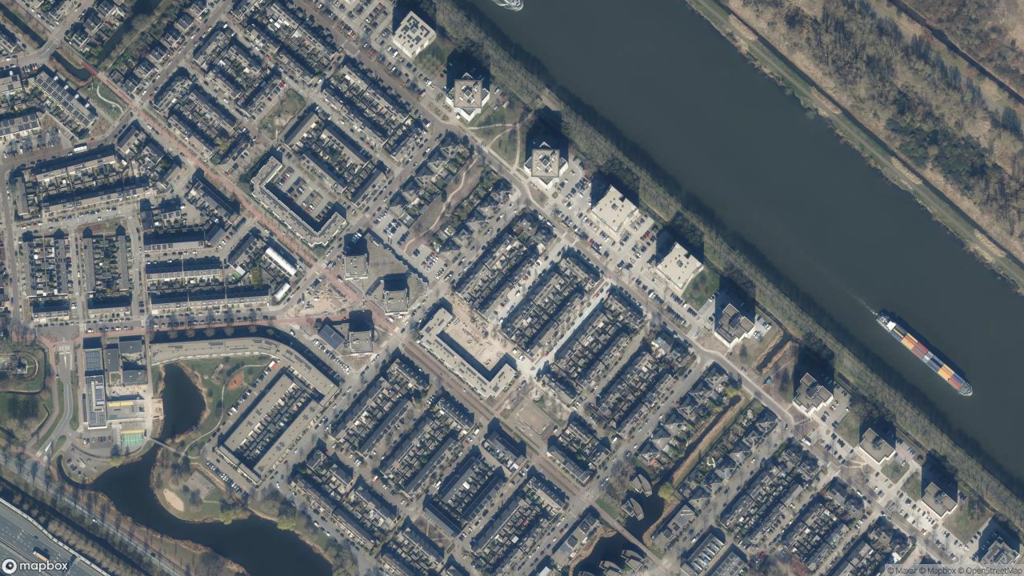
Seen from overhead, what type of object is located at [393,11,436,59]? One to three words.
building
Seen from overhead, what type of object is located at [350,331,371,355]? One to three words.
building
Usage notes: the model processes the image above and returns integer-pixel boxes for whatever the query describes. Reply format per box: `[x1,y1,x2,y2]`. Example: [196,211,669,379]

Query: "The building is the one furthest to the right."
[980,537,1021,576]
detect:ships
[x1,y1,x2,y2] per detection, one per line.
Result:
[502,0,523,10]
[874,315,973,394]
